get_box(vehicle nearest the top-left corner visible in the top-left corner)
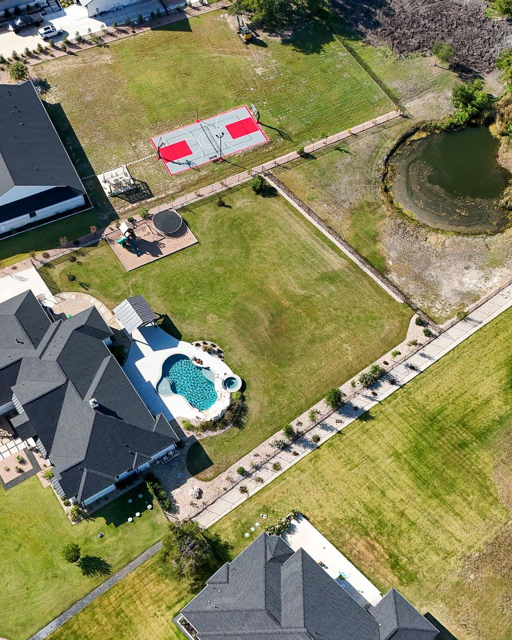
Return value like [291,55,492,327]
[9,12,42,32]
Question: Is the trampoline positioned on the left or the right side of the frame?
left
